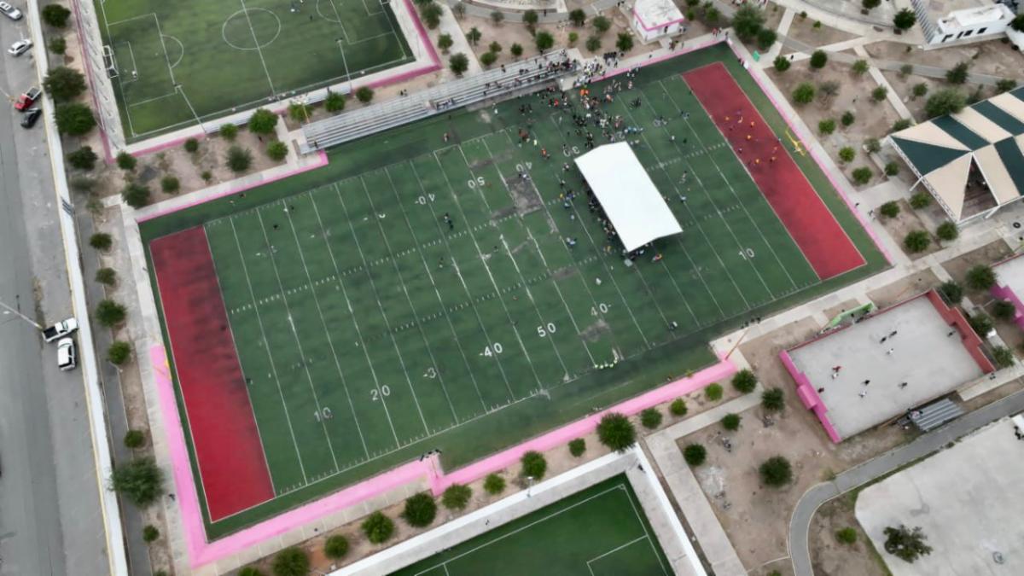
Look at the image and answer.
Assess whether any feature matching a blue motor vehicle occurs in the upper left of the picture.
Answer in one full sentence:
No, no blue motor vehicle is visible in the upper left of the picture.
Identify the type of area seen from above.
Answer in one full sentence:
What you see here is a sports ground.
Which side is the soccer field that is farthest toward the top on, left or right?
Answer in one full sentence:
It is on the left.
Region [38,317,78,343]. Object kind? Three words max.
vehicle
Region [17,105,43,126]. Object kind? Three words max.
car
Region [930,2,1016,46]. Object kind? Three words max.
building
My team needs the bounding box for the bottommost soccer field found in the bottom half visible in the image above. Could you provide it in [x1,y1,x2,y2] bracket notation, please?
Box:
[395,474,678,576]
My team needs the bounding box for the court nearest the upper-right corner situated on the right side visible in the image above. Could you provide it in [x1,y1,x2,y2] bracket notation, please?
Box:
[992,251,1024,307]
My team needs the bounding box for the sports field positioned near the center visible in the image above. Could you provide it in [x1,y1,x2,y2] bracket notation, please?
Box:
[138,41,894,543]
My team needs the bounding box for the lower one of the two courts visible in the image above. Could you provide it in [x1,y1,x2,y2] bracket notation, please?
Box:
[783,293,981,441]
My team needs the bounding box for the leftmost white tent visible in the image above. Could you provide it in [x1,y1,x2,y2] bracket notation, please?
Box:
[574,141,683,261]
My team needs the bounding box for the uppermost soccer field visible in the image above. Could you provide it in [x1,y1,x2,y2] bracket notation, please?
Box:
[94,0,415,142]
